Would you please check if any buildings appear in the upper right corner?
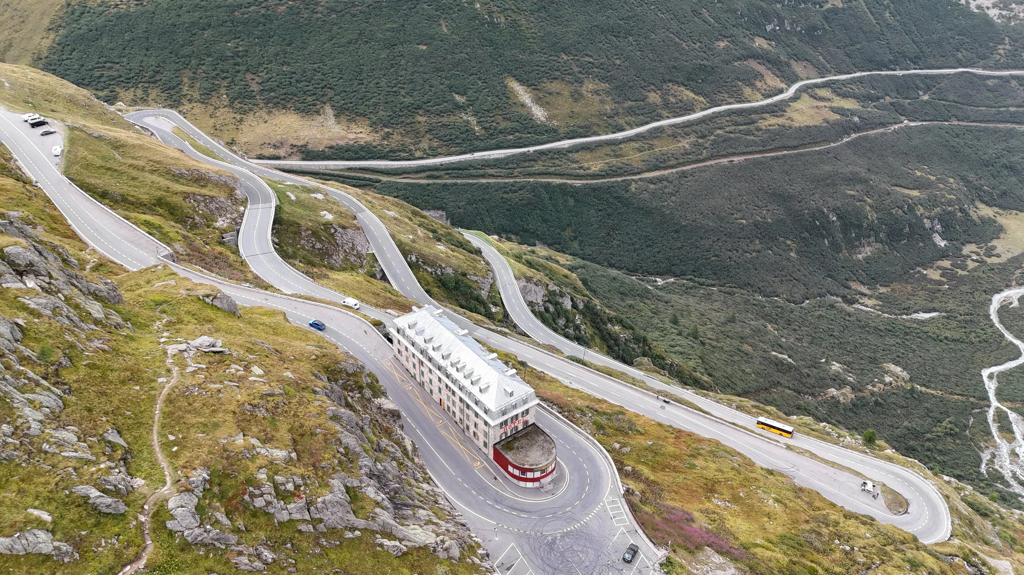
No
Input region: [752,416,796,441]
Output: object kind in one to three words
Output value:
bus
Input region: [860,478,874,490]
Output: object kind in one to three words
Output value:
vehicle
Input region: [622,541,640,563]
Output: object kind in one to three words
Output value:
car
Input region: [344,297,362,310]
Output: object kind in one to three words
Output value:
vehicle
